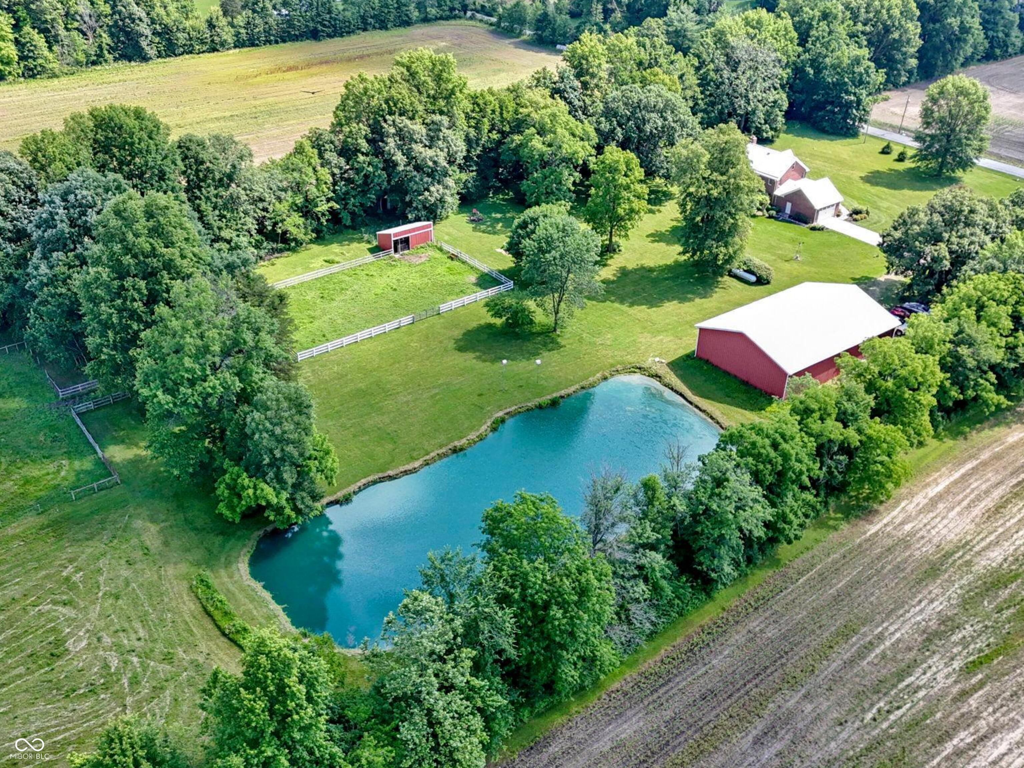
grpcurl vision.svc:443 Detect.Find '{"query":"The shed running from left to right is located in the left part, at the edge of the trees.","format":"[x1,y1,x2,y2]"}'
[378,220,434,255]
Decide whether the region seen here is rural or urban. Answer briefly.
rural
